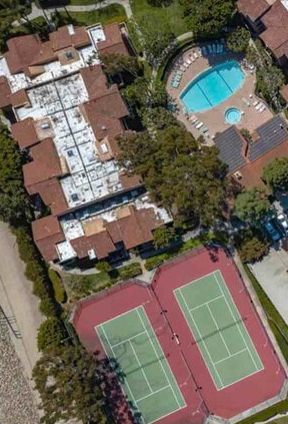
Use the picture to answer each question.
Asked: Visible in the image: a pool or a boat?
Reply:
pool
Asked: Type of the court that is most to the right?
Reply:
tennis court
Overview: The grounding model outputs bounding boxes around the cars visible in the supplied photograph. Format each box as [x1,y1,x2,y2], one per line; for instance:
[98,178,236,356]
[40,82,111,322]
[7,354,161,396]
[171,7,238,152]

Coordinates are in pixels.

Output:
[275,214,288,234]
[263,220,282,242]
